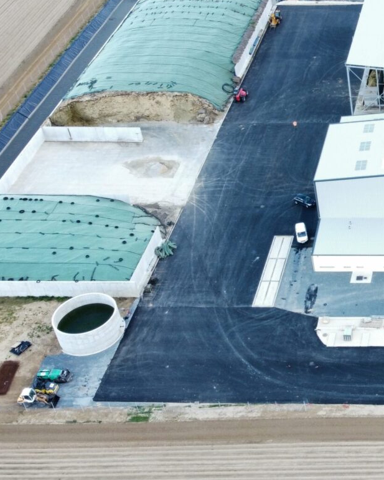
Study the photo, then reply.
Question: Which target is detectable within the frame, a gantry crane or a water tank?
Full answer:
It is a water tank that can be seen here.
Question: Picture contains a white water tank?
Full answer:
Yes, there's a white water tank here.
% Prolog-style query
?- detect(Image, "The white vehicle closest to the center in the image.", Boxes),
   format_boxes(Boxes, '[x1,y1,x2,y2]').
[294,221,307,242]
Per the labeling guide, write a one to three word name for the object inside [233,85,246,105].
vehicle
